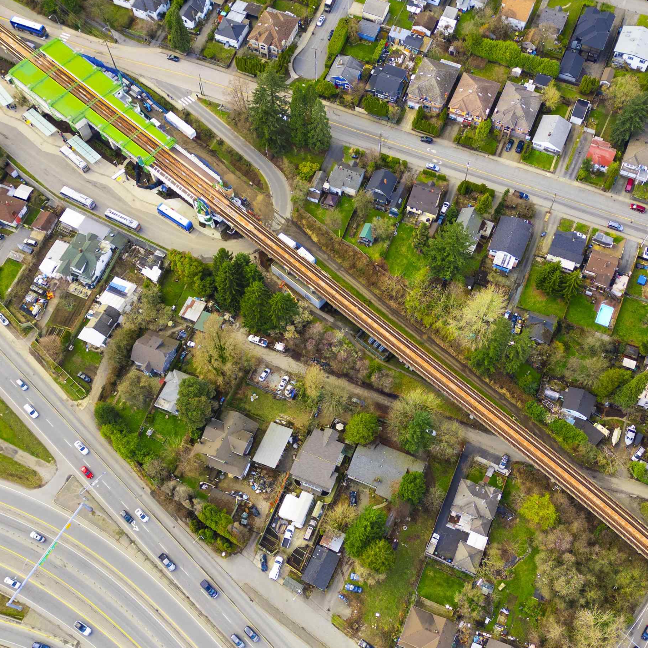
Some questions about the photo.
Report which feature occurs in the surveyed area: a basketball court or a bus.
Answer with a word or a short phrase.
bus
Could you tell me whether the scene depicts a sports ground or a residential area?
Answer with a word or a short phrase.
residential area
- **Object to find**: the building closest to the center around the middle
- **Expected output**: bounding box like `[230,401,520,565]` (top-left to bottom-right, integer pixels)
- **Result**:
[267,262,328,313]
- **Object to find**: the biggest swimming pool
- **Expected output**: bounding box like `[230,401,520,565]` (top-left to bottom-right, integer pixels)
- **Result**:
[596,302,615,327]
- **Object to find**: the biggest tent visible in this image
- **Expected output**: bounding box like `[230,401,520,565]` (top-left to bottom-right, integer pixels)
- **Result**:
[280,492,314,528]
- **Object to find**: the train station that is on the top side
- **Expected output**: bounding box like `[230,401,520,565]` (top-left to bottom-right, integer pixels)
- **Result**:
[6,37,241,226]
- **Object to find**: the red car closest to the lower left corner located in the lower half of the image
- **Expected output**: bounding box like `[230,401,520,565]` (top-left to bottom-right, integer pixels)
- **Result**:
[78,464,95,481]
